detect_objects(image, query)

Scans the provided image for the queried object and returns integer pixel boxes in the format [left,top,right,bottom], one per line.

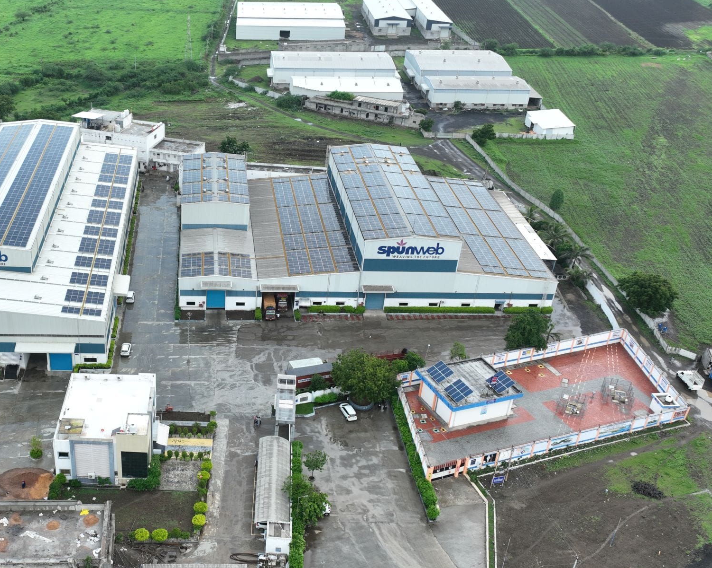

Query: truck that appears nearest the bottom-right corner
[682,371,709,393]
